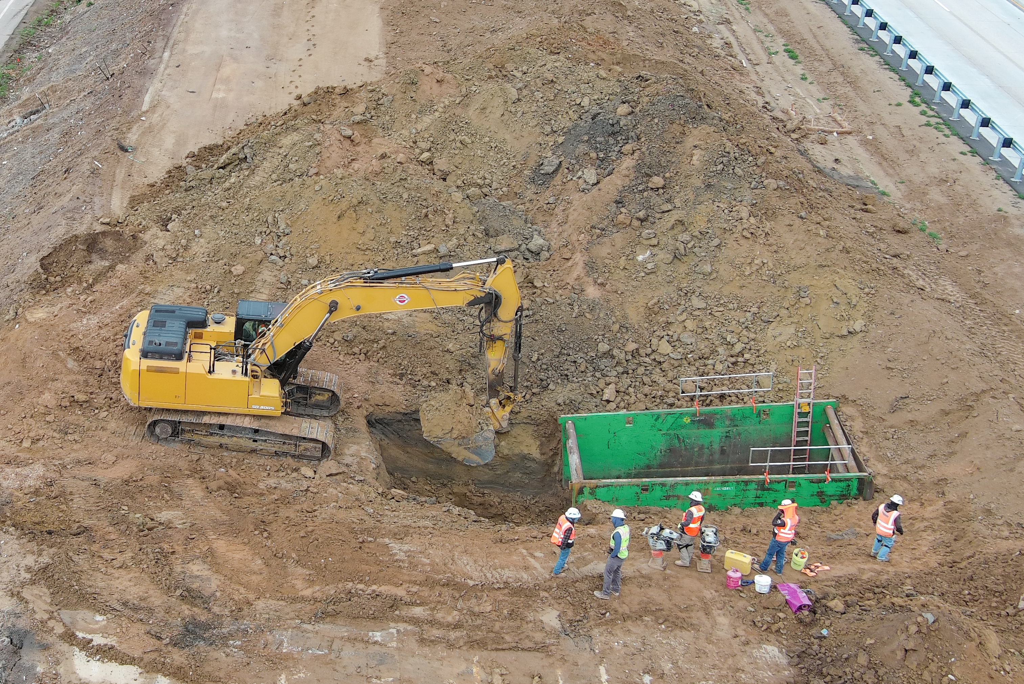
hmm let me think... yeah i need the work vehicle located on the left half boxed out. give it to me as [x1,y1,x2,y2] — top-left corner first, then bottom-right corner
[121,247,523,466]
